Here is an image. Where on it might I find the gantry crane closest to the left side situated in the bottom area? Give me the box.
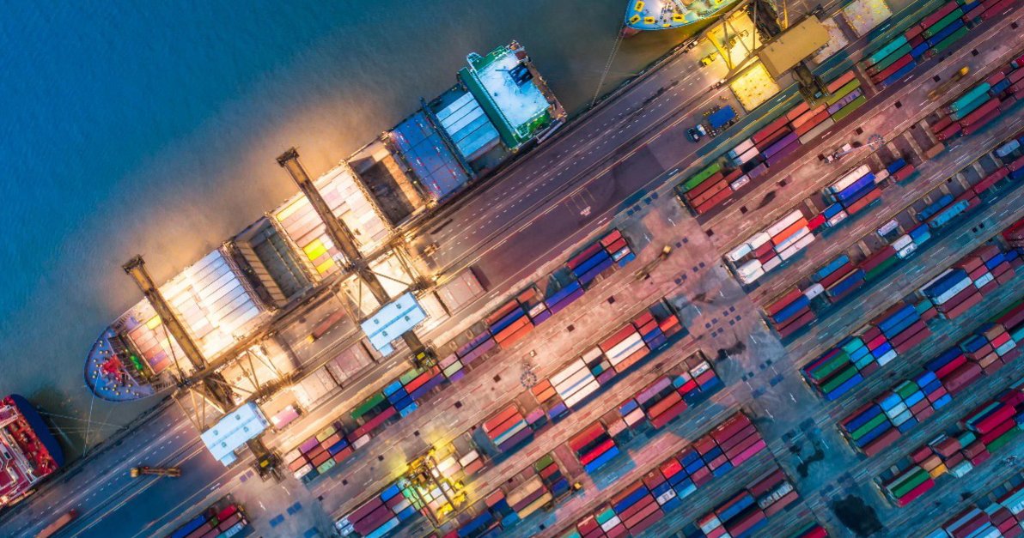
[117,248,304,479]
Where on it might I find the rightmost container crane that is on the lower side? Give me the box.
[408,440,475,525]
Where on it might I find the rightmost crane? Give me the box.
[683,0,831,112]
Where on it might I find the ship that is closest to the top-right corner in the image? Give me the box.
[615,0,736,67]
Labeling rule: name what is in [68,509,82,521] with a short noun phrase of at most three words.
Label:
vehicle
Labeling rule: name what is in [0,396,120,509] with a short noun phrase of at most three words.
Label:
ship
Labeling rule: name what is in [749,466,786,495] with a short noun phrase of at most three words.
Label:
shipping container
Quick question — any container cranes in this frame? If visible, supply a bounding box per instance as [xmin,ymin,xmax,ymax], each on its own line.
[408,440,475,525]
[683,0,831,112]
[273,142,442,374]
[117,248,304,479]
